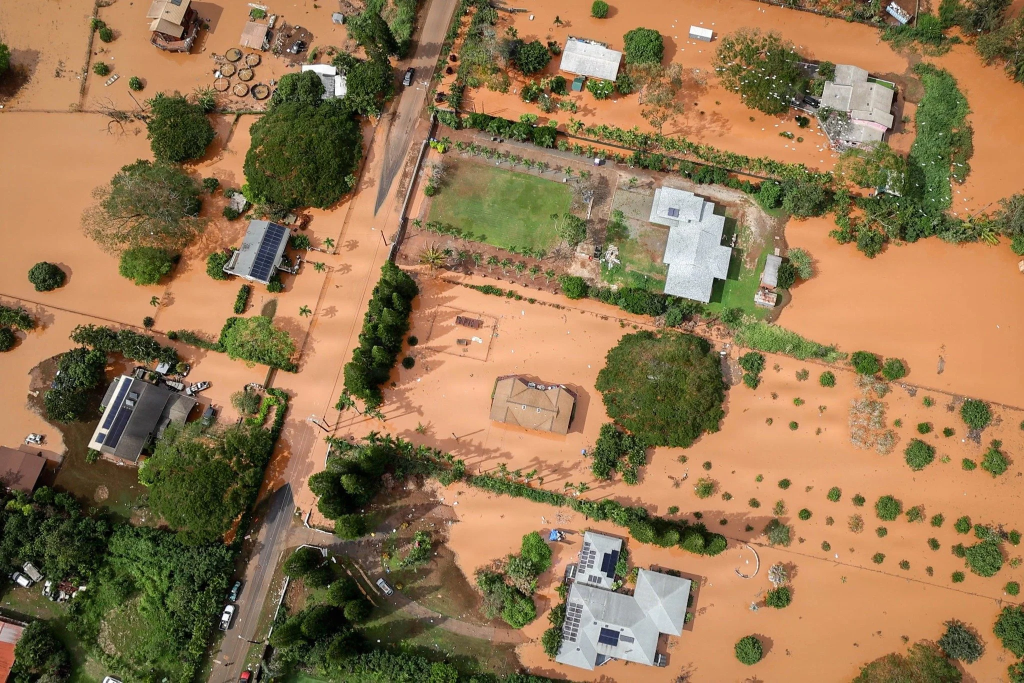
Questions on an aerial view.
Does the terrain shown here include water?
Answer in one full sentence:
Yes, some water is visible.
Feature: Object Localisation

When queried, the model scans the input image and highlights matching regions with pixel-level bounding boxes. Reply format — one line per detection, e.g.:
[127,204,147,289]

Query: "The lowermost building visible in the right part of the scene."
[556,531,692,671]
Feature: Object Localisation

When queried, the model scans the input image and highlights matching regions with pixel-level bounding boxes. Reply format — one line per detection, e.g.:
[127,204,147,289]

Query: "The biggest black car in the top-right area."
[803,95,822,107]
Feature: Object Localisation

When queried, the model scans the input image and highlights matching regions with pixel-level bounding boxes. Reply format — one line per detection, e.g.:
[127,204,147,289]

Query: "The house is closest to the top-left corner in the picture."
[147,0,204,58]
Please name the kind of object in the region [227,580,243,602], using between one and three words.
car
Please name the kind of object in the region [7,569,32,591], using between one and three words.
vehicle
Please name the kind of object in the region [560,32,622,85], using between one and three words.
house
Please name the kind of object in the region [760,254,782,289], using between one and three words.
shed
